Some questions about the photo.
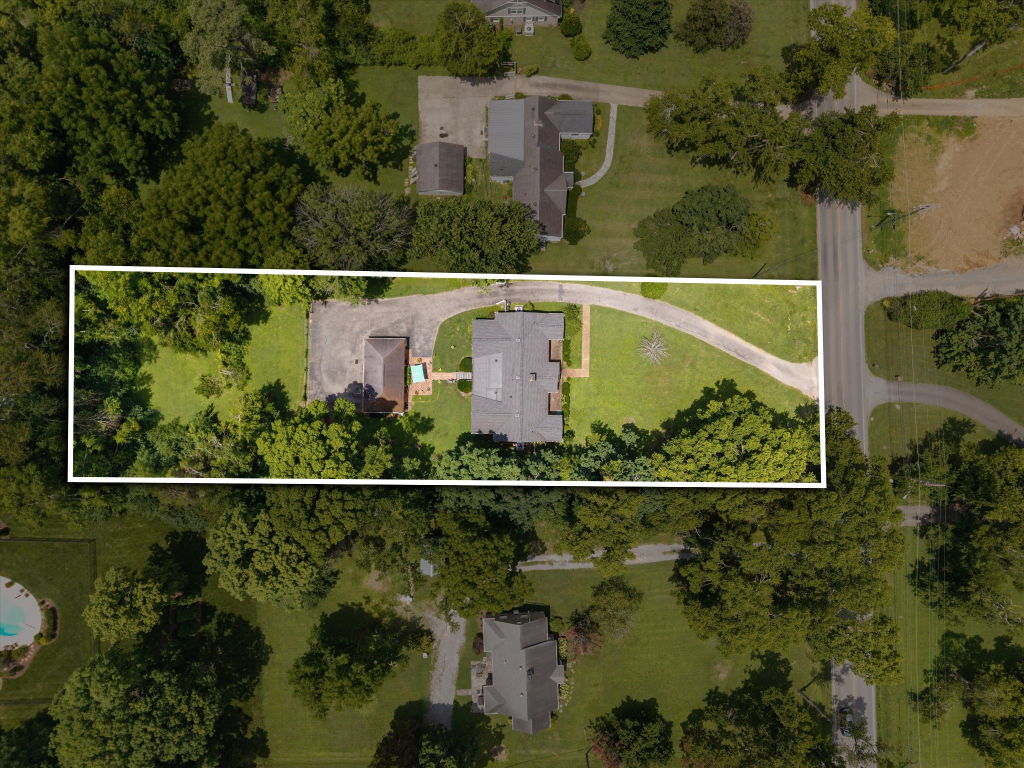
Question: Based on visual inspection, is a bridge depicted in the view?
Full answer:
No, I find no bridge anywhere in the image.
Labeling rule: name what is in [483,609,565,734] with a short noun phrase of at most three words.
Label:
house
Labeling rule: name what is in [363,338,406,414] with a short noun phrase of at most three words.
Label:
building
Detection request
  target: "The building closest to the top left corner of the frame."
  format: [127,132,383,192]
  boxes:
[417,140,464,197]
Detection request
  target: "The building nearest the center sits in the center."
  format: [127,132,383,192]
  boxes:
[471,312,568,443]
